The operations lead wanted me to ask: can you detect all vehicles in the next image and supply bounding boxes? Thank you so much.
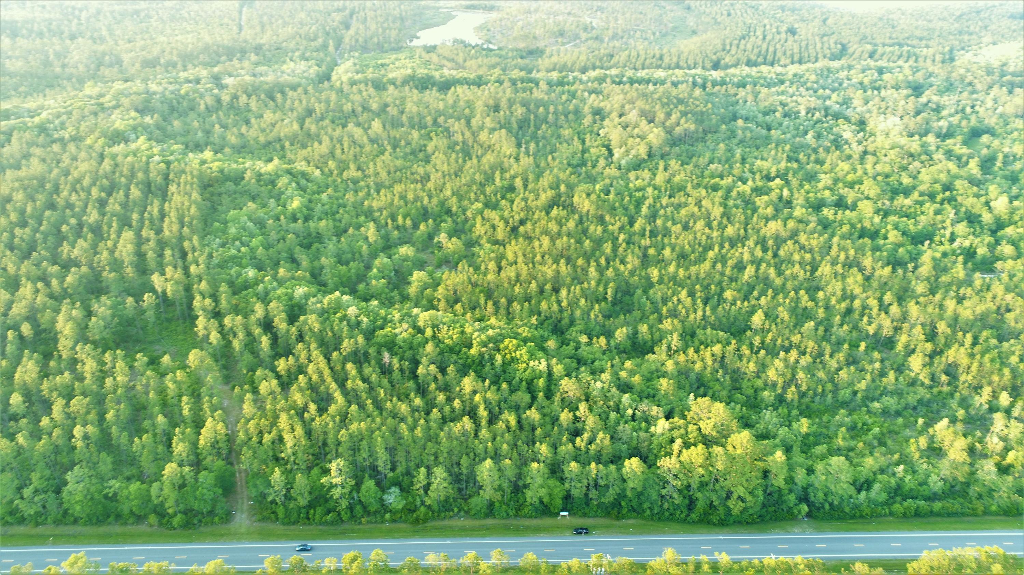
[297,543,313,551]
[573,527,588,534]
